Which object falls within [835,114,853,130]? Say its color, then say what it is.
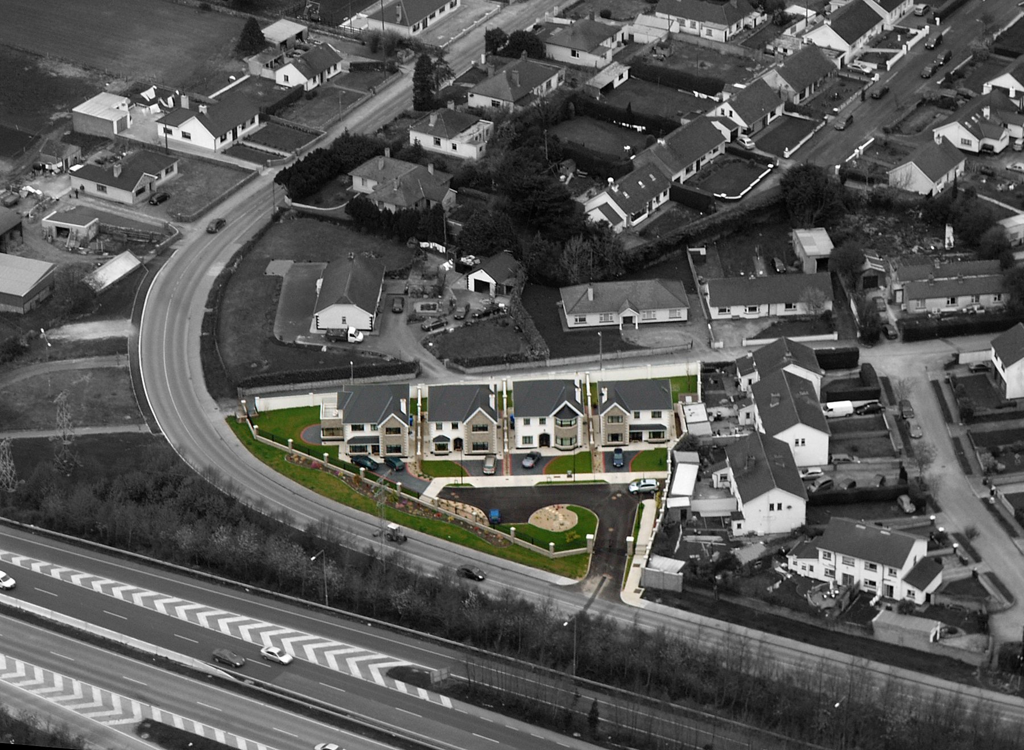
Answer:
gray car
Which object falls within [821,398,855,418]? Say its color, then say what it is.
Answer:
white vehicle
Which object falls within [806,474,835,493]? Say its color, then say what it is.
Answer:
gray car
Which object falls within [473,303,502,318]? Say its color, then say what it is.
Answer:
black car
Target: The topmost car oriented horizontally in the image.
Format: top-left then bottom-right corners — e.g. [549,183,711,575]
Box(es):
[847,62,873,75]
